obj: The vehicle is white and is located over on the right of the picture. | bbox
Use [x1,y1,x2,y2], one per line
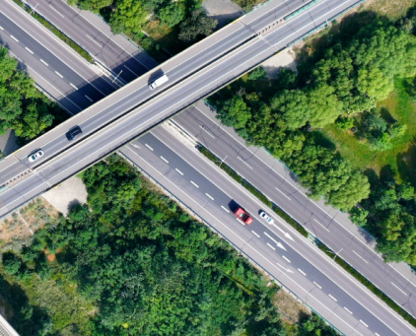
[258,210,274,224]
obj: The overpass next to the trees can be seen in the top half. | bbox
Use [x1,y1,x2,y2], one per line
[3,9,264,209]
